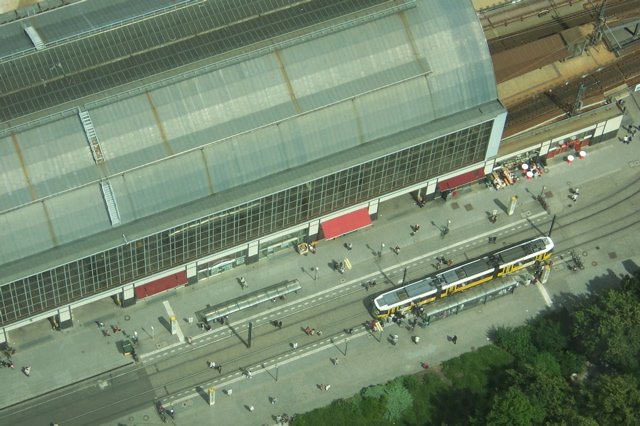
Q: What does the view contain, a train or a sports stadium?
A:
train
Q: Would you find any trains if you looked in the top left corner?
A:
No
